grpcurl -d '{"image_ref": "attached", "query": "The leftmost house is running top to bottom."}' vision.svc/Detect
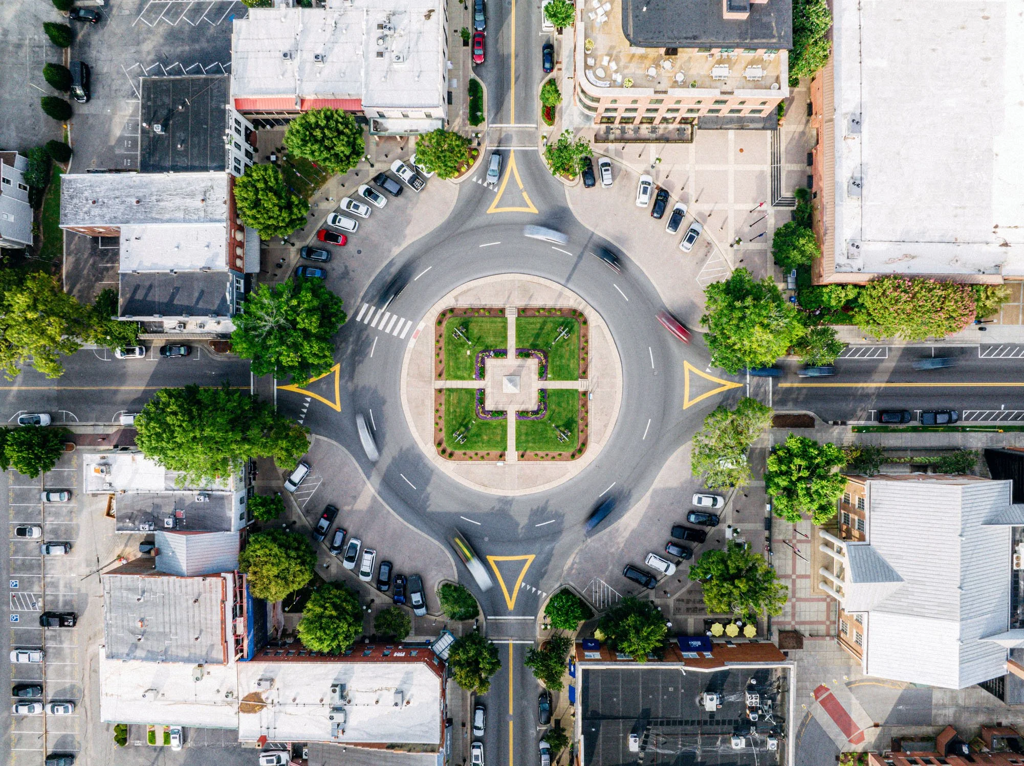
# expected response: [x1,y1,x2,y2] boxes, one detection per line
[0,151,42,249]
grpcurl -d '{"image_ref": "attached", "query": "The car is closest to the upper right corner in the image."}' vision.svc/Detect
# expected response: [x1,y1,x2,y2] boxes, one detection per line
[917,356,952,372]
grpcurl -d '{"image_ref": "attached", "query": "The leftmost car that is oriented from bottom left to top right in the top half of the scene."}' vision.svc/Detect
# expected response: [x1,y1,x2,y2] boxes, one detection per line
[380,272,411,307]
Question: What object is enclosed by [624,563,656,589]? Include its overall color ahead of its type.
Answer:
black car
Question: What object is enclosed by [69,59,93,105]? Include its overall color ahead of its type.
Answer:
black vehicle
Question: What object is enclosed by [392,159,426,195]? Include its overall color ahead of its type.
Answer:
white truck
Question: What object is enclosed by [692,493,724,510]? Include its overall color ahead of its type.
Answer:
white car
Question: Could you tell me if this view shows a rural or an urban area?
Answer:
urban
